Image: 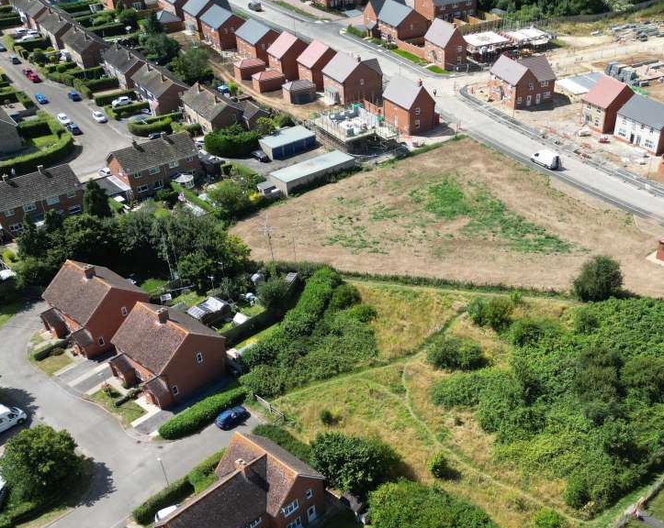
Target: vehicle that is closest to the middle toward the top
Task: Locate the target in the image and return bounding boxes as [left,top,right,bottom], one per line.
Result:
[250,146,270,161]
